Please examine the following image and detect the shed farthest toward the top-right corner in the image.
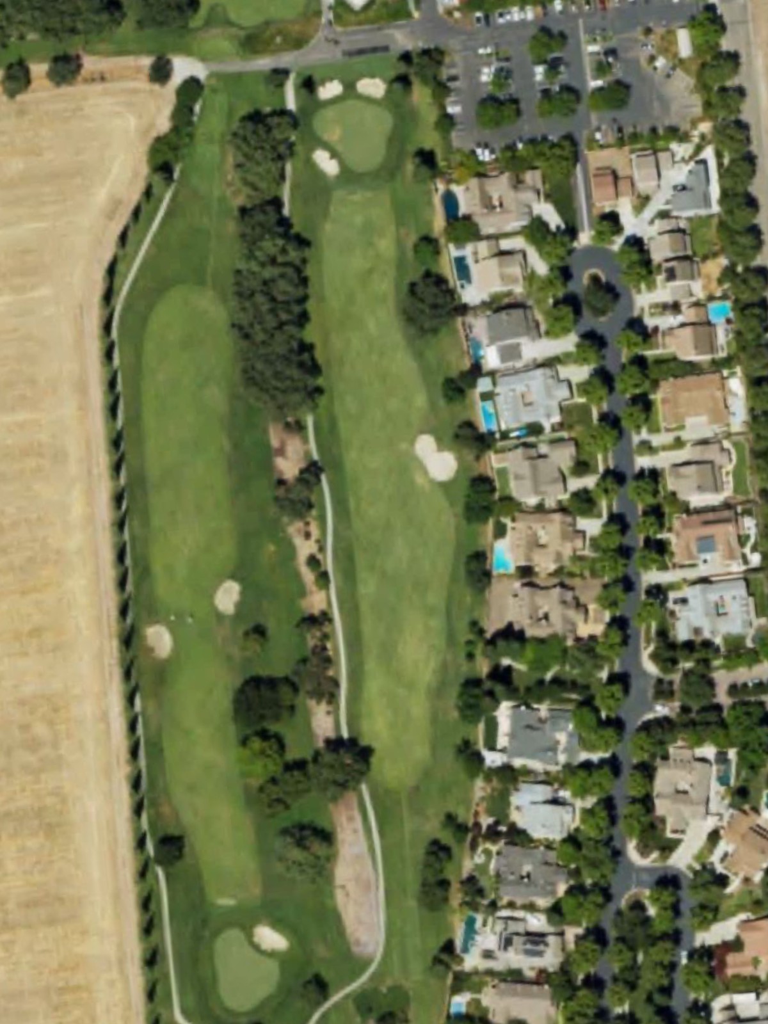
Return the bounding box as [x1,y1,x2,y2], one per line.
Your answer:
[679,27,692,57]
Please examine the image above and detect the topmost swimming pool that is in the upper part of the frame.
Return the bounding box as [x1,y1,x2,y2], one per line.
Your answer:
[443,187,460,221]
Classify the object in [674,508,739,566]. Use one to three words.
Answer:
house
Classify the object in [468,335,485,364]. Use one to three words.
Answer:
swimming pool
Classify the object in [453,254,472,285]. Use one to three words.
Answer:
swimming pool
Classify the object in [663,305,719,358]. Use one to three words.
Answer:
house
